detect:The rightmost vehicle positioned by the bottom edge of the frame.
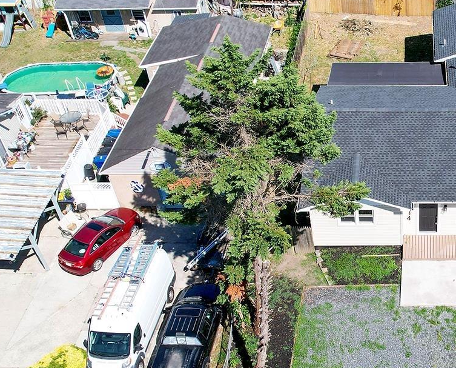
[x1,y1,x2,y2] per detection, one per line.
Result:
[150,284,225,368]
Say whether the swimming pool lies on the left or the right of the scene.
left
